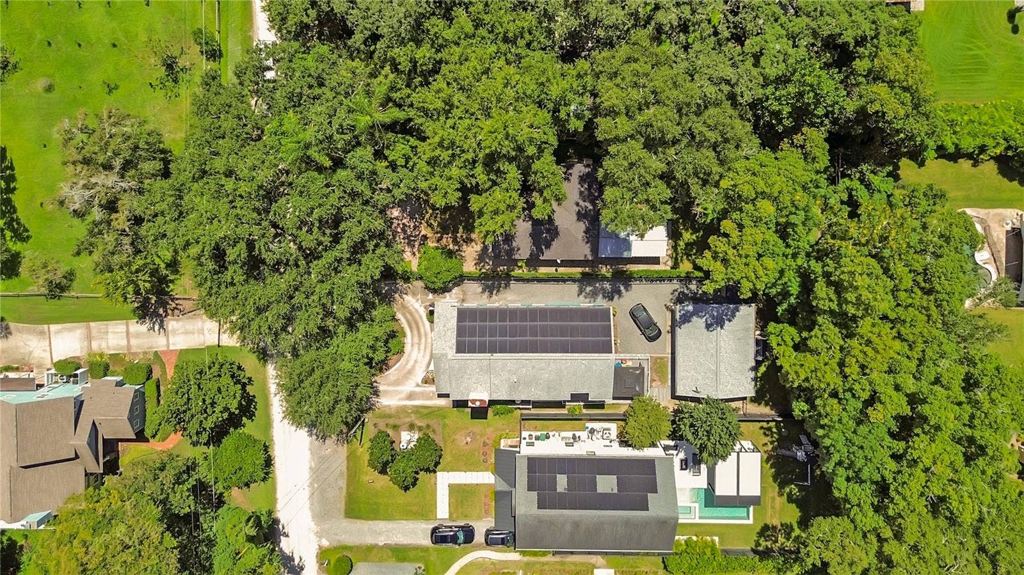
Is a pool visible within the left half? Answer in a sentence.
No, I see no pool within the left half.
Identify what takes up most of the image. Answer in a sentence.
The scene is dominated by trees.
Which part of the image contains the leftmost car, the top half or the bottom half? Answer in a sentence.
Seen from above, the leftmost car lies in the bottom half of the view.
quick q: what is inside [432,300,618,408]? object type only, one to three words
house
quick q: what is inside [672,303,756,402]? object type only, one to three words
barn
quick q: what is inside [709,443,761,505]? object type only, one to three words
building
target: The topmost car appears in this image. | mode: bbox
[630,302,660,340]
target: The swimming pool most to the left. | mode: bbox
[676,488,753,524]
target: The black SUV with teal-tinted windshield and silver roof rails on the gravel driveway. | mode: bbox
[432,524,475,546]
